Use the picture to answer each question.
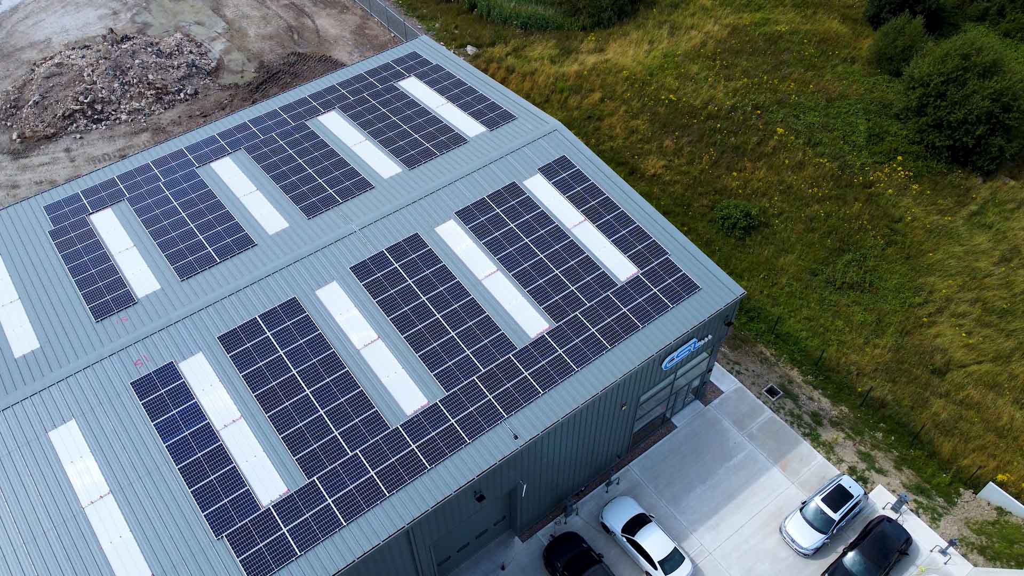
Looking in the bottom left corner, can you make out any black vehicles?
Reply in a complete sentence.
No, I see no black vehicle in the bottom left corner.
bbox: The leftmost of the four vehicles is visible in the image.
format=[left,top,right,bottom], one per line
[545,532,614,576]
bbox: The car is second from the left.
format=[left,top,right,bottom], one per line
[600,496,690,576]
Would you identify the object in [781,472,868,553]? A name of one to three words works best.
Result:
car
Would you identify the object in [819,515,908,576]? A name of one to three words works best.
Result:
car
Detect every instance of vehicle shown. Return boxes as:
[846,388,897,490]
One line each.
[781,472,868,553]
[600,496,690,576]
[819,515,908,576]
[545,532,614,576]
